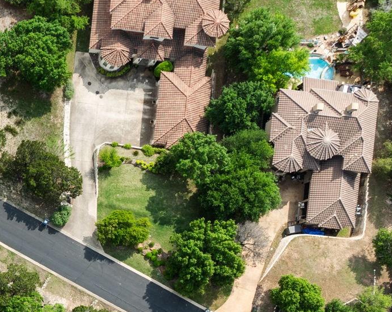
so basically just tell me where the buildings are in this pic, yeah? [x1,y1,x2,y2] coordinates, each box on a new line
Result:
[85,0,231,150]
[260,75,379,230]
